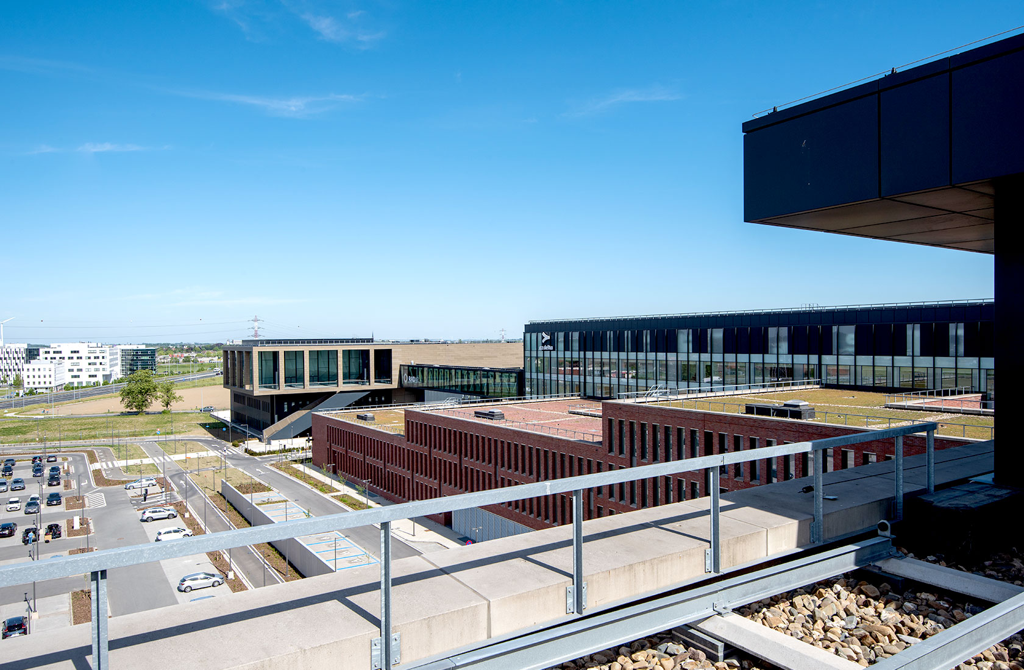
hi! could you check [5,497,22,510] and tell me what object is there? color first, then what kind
white vehicle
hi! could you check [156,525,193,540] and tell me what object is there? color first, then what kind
white car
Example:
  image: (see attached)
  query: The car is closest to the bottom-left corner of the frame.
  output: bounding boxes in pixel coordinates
[0,606,31,636]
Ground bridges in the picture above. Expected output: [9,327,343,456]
[399,360,527,405]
